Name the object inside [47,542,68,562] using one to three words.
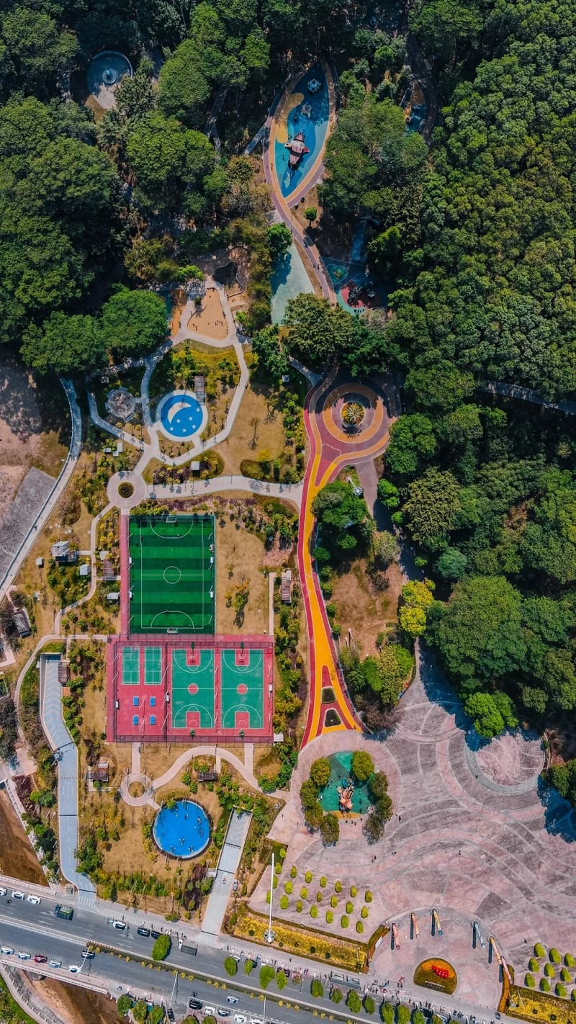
shed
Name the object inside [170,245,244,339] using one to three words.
playground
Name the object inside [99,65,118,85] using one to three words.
fountain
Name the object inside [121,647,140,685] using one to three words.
sports court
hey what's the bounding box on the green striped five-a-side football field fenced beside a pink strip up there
[127,515,216,634]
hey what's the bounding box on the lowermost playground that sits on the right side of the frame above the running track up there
[322,256,390,316]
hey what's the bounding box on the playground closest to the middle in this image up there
[156,390,207,442]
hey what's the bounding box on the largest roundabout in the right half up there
[316,367,400,459]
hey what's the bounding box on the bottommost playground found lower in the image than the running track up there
[313,753,380,820]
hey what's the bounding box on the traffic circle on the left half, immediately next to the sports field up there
[108,472,145,509]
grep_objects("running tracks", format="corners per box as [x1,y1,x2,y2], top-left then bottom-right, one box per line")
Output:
[298,380,389,748]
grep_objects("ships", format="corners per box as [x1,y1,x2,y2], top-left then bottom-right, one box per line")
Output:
[282,117,312,185]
